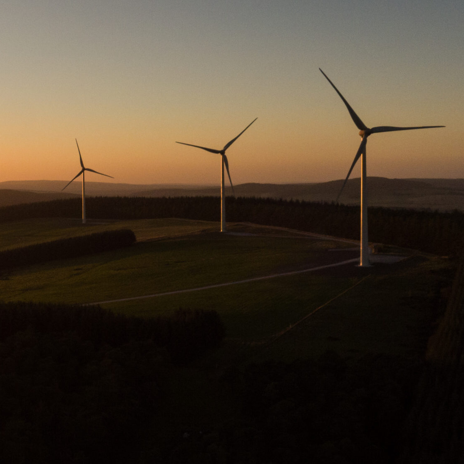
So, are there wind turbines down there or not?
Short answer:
Yes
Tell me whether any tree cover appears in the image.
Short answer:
Yes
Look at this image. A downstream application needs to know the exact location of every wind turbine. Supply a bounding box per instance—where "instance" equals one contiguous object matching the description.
[325,68,448,268]
[179,118,258,232]
[63,136,117,223]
